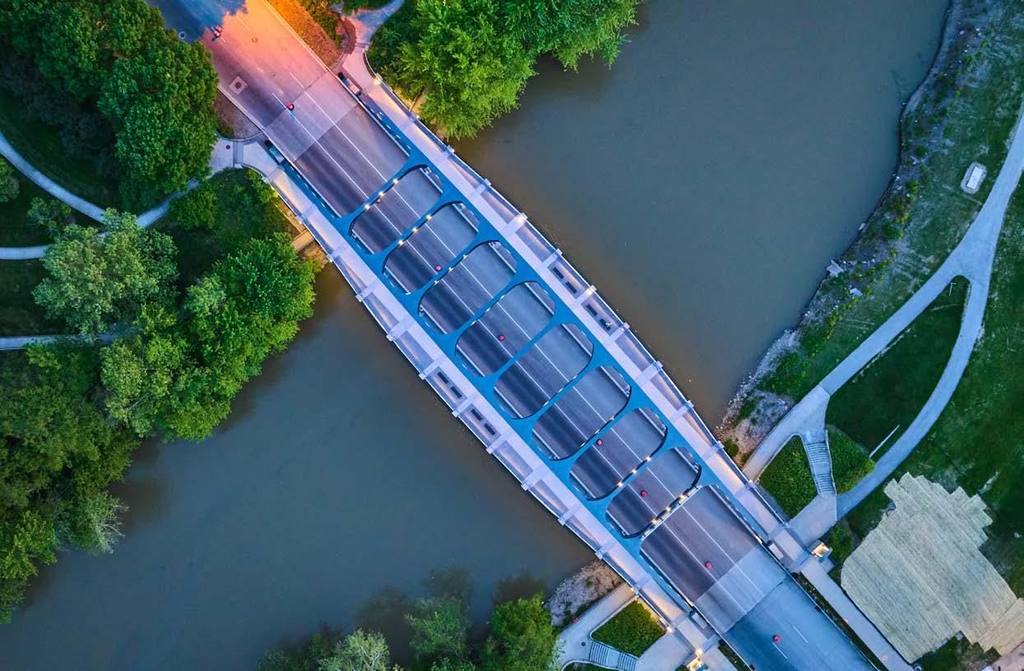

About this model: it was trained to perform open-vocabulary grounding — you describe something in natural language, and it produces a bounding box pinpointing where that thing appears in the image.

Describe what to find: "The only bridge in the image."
[257,62,795,642]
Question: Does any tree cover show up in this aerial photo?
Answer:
Yes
